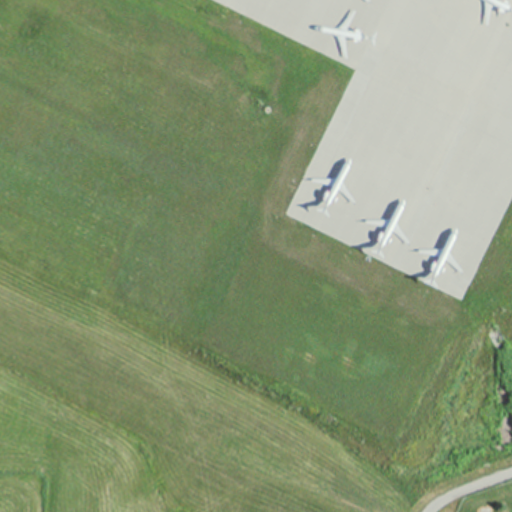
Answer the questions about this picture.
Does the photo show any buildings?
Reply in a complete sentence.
No, this view has no building in it.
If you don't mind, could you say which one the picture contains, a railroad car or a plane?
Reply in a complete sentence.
There is a plane in the scene.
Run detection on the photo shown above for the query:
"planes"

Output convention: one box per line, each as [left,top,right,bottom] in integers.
[312,159,356,216]
[486,0,512,25]
[314,10,375,58]
[418,230,463,288]
[366,200,410,258]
